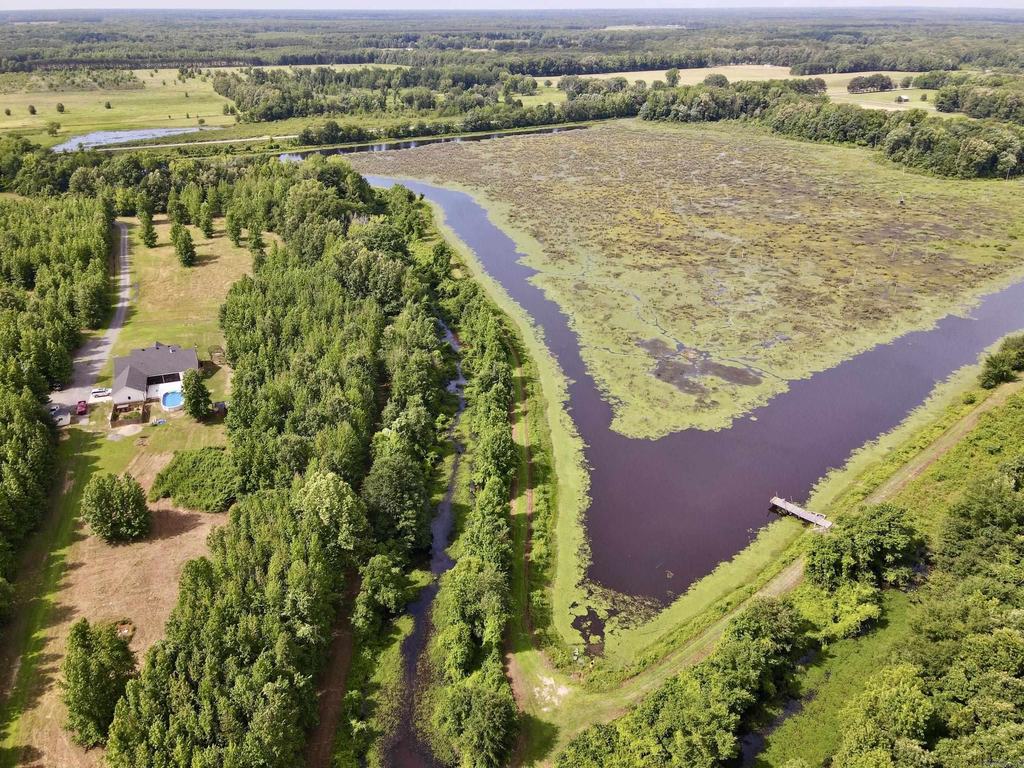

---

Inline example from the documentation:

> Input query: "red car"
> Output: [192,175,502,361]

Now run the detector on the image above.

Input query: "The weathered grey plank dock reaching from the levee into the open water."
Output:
[769,495,827,526]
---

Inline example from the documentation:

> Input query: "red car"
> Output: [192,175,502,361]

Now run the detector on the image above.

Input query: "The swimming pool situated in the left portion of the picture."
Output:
[159,393,188,412]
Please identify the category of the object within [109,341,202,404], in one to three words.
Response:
house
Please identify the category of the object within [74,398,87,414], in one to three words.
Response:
vehicle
